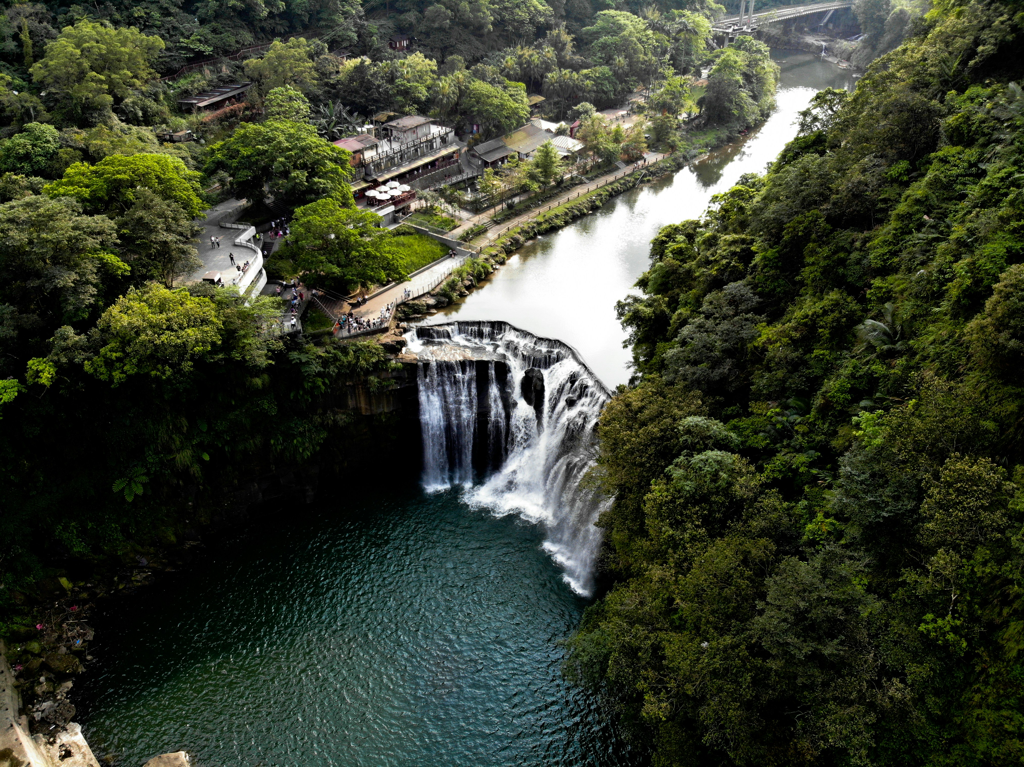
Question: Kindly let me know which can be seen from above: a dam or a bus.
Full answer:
I can see a dam in this picture.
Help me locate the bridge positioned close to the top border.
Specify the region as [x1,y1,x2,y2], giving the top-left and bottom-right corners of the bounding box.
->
[712,0,837,38]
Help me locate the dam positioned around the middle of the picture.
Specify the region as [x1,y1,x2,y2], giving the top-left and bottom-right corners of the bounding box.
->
[412,322,614,417]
